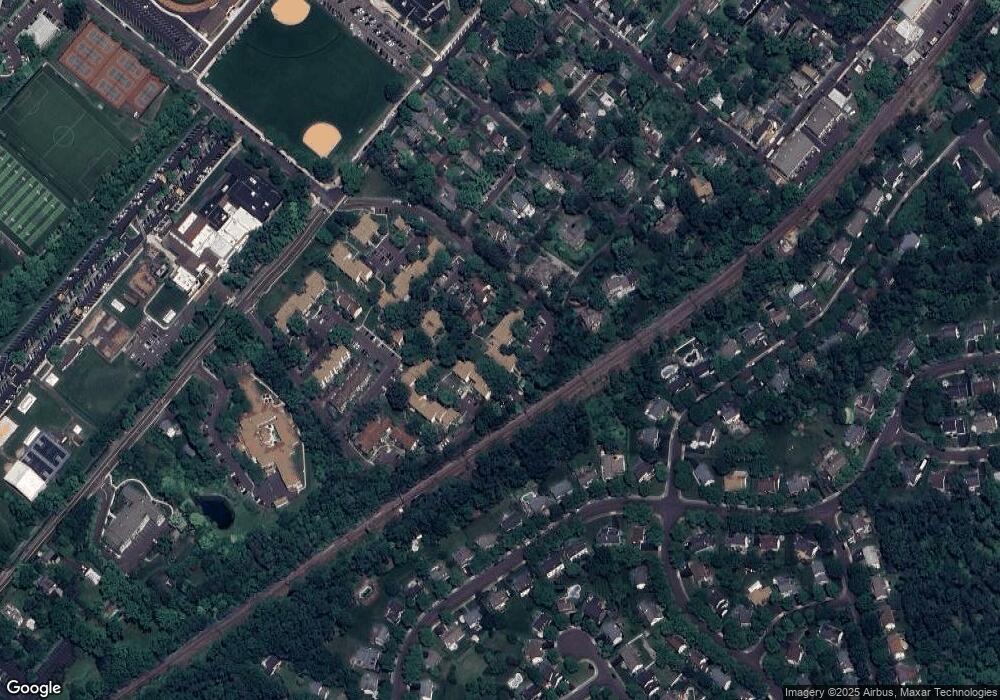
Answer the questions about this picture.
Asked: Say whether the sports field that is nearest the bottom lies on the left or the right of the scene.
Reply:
left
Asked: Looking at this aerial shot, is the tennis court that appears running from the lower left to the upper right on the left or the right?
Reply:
left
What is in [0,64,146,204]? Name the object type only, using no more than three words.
soccer field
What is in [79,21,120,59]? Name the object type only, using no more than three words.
tennis court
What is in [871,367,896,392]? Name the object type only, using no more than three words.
house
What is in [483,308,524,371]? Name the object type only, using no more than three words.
building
